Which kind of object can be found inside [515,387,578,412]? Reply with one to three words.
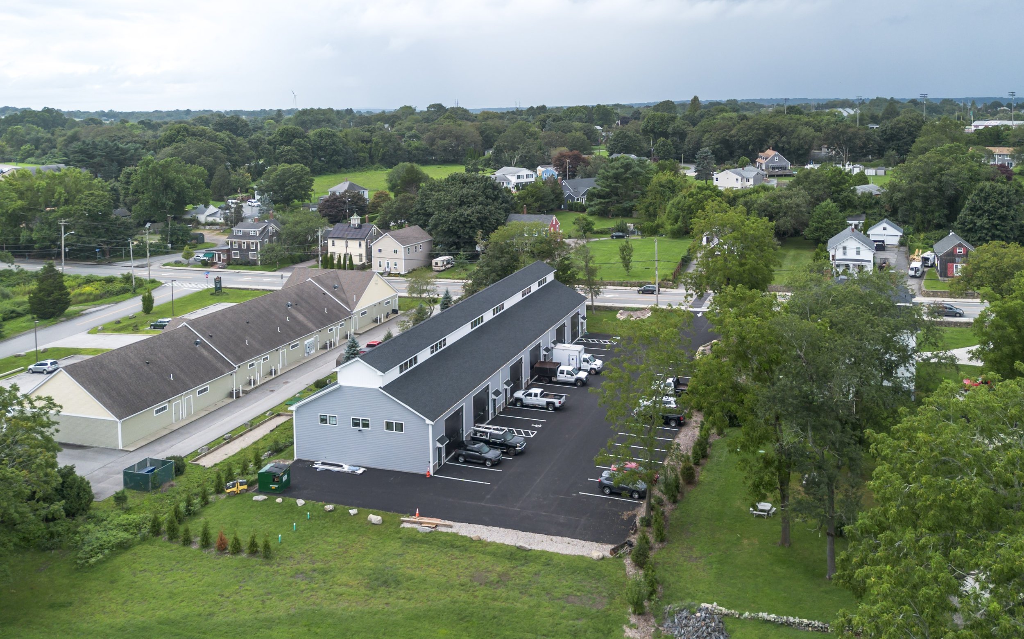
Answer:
truck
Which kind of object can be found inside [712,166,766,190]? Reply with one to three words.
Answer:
house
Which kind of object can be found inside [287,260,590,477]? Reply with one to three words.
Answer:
building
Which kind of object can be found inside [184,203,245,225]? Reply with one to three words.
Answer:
building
